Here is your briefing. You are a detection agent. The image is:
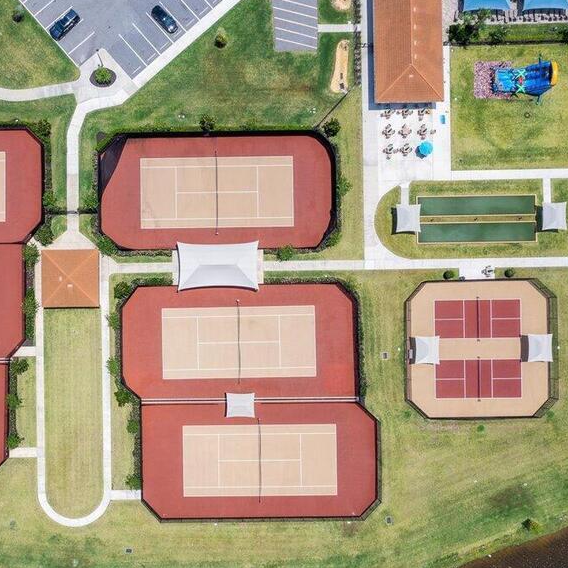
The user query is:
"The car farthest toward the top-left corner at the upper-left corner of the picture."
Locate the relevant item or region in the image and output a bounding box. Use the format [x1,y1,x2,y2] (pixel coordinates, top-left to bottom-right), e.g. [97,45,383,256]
[52,10,81,38]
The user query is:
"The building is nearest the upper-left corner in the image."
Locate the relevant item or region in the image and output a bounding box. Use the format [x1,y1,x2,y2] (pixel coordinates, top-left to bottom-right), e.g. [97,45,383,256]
[41,249,100,308]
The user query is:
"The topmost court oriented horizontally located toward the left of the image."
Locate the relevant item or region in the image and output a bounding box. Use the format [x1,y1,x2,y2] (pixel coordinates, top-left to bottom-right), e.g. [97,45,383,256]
[100,136,331,248]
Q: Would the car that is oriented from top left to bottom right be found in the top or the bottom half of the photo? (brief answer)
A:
top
